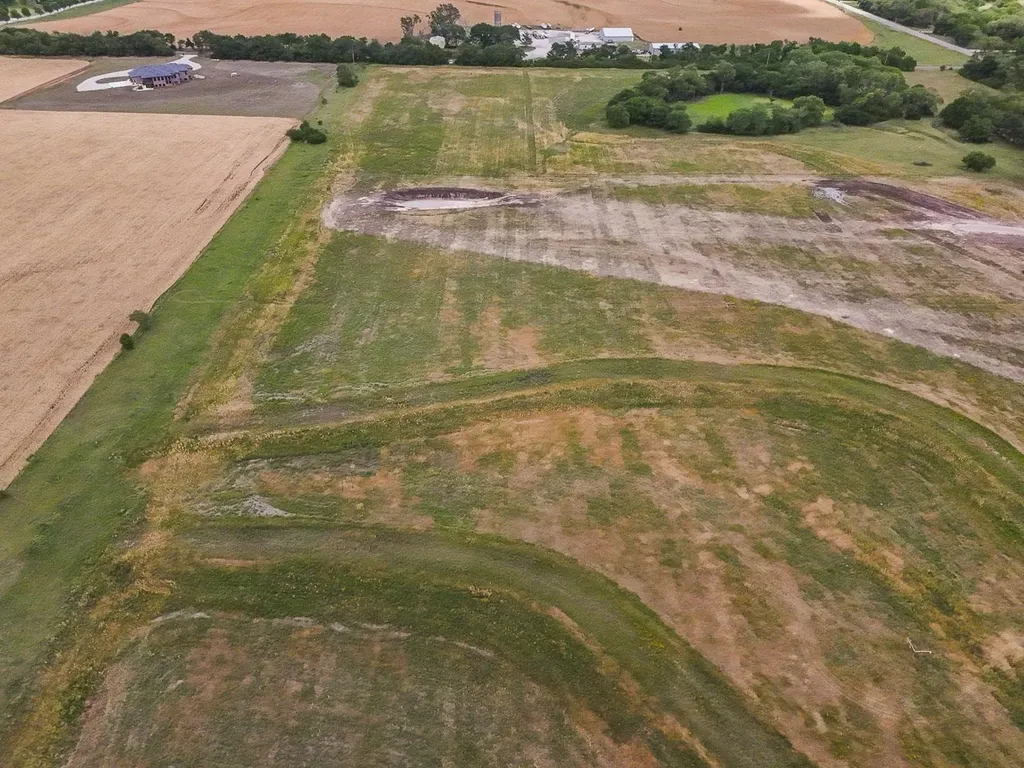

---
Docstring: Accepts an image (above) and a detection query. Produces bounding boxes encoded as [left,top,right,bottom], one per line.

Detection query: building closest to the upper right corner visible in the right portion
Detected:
[648,39,701,53]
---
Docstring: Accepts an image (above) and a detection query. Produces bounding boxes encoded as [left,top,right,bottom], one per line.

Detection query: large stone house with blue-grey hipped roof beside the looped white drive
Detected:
[125,62,191,88]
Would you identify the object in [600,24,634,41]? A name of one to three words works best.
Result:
barn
